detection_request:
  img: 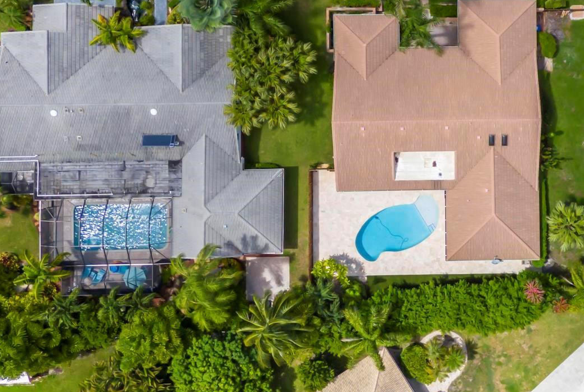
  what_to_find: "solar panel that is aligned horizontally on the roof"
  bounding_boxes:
[140,135,176,147]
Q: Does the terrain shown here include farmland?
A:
No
